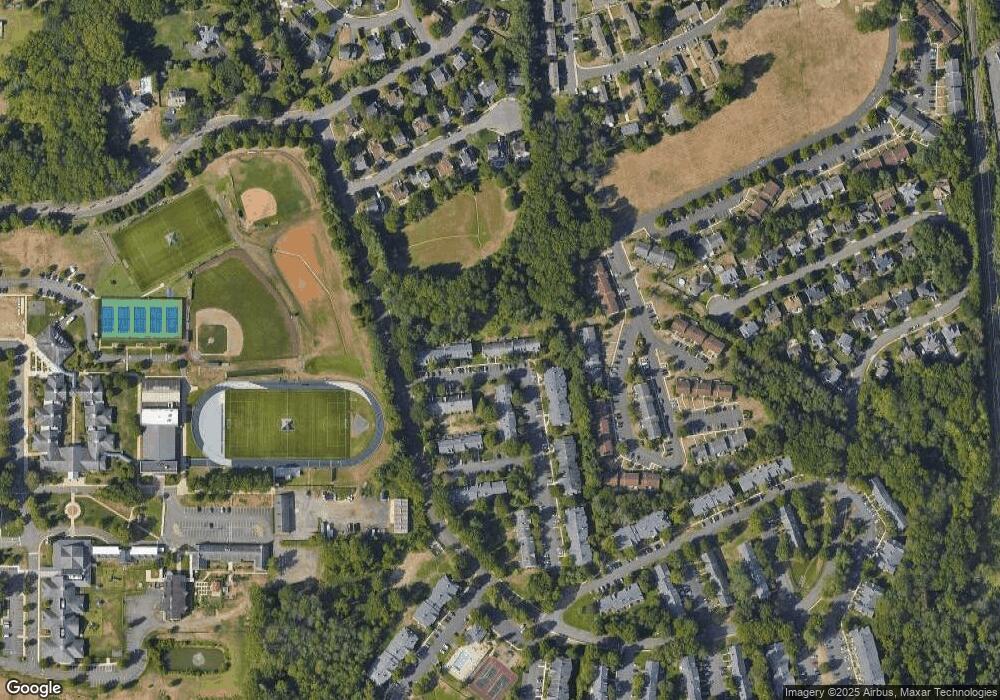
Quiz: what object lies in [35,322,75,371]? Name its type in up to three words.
building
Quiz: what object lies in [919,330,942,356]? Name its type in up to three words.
house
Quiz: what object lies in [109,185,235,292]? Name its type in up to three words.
soccer field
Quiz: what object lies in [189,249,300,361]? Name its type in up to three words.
baseball field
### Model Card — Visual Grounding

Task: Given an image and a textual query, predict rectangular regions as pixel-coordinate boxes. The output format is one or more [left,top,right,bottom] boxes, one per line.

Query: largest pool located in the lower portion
[445,640,492,682]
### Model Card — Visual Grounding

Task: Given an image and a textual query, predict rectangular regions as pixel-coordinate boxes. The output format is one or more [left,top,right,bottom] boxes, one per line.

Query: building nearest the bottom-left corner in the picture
[38,542,97,667]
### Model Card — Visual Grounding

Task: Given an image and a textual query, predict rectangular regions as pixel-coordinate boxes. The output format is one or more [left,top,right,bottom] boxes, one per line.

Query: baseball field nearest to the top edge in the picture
[218,151,318,228]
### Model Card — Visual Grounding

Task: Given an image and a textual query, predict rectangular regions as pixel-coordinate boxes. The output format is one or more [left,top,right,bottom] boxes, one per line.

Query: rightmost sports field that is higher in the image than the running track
[273,223,346,351]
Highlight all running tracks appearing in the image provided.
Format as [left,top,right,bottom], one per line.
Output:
[190,380,385,468]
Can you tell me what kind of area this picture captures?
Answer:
residential area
